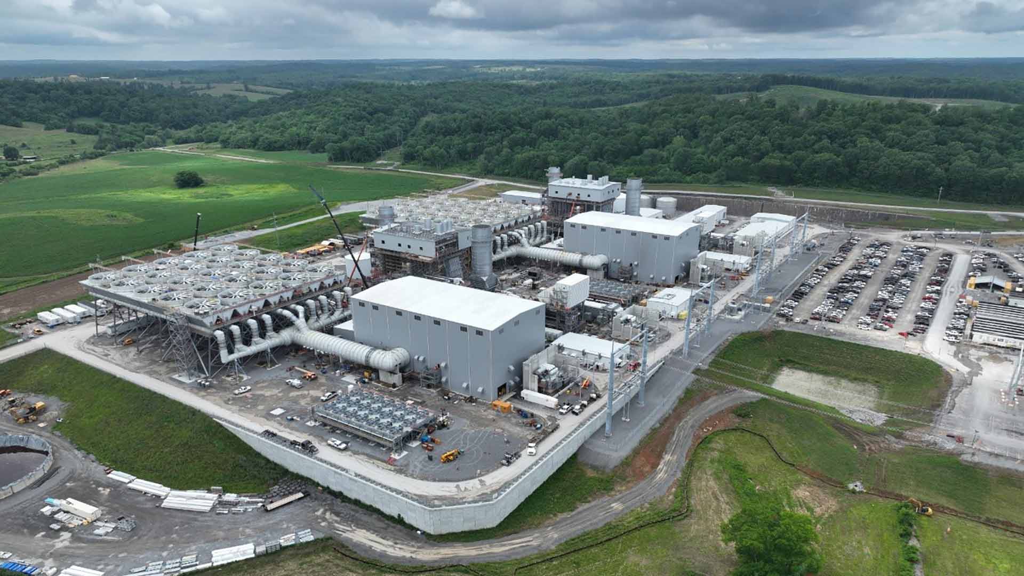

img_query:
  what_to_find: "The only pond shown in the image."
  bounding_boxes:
[0,430,55,498]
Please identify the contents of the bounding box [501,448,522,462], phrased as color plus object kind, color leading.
gray vehicle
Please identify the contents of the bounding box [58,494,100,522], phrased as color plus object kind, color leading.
white shipping container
